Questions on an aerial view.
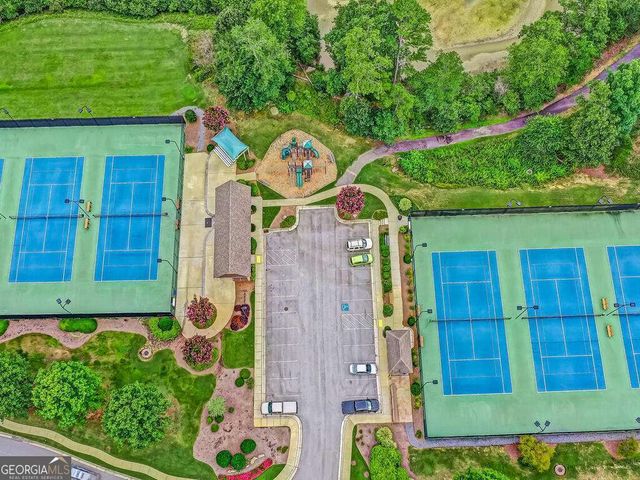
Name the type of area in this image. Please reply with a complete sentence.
The picture captures a sports ground.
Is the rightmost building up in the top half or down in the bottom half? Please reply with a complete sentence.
The bottom half of the photo is where the rightmost building is.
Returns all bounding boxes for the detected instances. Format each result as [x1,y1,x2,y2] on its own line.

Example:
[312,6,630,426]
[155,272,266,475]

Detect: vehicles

[261,400,298,416]
[350,361,376,376]
[341,399,379,414]
[348,238,372,252]
[350,253,372,266]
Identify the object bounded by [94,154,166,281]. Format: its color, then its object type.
blue tennis court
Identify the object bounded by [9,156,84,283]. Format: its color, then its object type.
blue tennis court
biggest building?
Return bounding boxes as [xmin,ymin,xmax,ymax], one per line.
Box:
[213,181,252,281]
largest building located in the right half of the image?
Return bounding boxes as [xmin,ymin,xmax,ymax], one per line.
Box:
[386,329,413,374]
